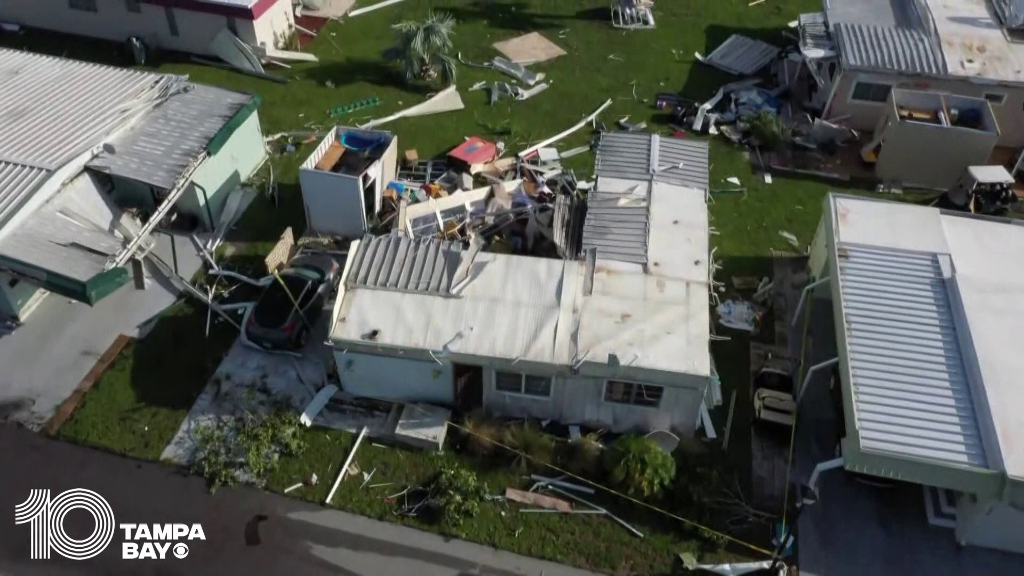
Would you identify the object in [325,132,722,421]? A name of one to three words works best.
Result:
house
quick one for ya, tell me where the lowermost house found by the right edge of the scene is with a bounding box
[791,187,1024,550]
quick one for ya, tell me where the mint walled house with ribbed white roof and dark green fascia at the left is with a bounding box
[0,47,276,300]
